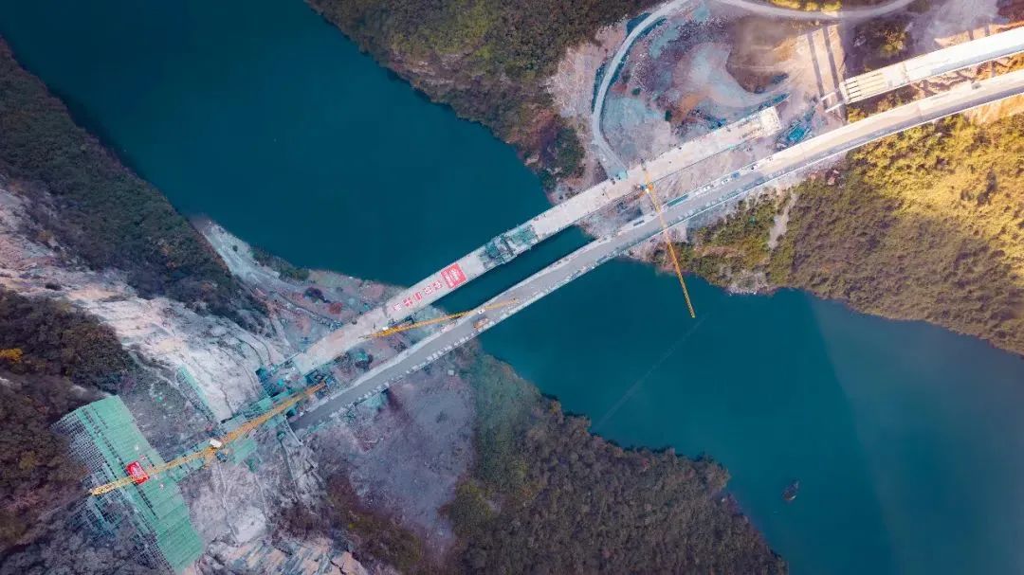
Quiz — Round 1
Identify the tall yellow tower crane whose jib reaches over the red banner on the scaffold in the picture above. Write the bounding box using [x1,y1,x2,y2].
[87,383,326,495]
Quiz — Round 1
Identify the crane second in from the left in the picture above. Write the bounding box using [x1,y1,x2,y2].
[360,299,518,341]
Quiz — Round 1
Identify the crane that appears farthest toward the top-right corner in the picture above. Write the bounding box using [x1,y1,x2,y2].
[617,162,695,318]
